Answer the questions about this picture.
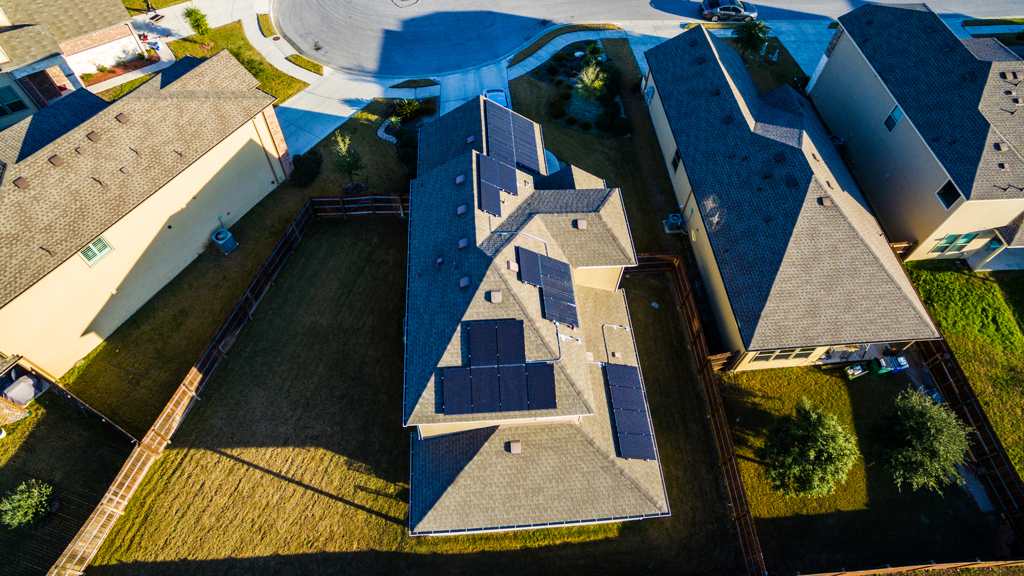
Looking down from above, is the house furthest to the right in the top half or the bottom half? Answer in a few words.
top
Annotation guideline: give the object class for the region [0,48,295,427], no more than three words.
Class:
house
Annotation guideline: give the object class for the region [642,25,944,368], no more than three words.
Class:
house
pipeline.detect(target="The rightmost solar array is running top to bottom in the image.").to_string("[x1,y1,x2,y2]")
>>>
[608,362,658,462]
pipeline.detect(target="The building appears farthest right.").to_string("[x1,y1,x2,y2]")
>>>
[813,3,1024,270]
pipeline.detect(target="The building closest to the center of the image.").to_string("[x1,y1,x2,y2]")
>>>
[400,92,674,540]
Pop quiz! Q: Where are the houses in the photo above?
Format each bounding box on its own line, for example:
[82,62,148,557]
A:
[400,92,674,540]
[642,25,944,368]
[813,3,1024,270]
[0,48,295,427]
